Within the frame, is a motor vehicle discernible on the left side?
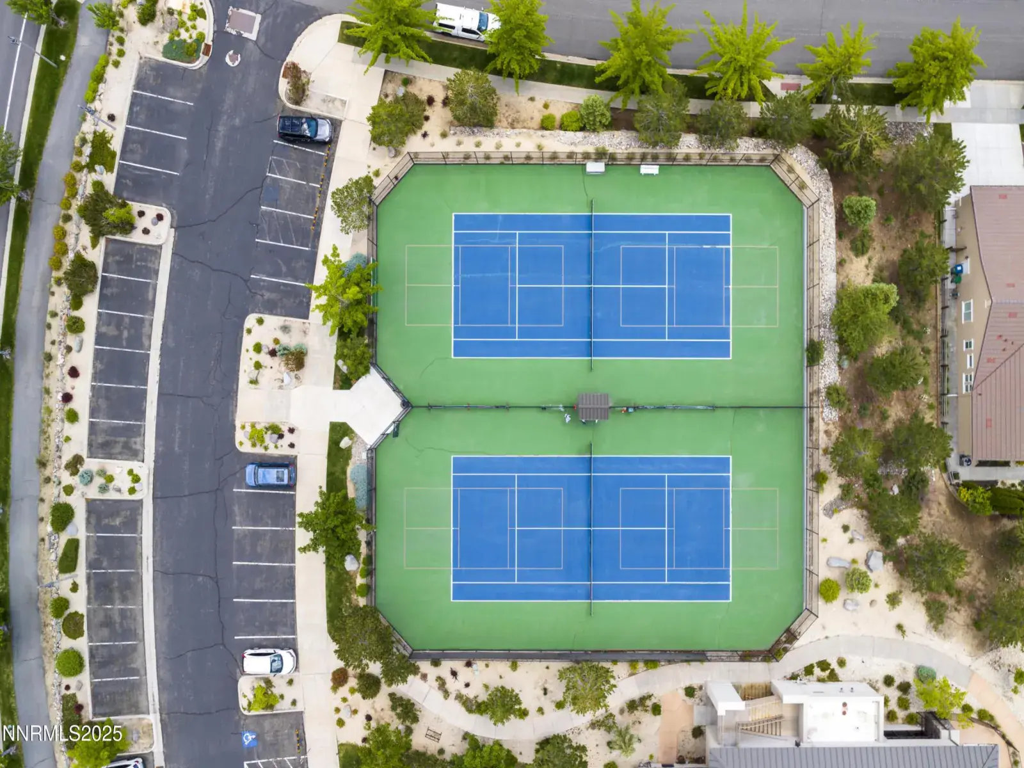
Yes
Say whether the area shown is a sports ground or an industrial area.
sports ground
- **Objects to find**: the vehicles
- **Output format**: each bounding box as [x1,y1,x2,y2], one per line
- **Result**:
[241,646,297,677]
[93,750,150,768]
[278,112,335,146]
[246,460,299,489]
[435,1,500,47]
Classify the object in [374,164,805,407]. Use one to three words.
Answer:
tennis court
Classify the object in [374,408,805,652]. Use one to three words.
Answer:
tennis court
